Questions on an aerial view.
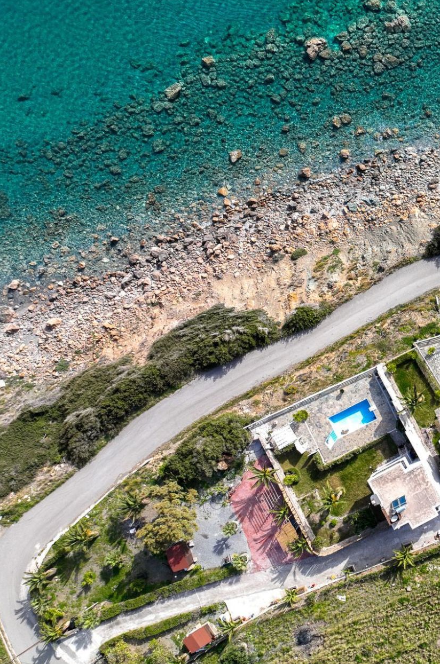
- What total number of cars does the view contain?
zero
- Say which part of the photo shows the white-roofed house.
bottom right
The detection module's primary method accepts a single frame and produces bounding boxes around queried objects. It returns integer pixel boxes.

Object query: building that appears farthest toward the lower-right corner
[368,455,440,531]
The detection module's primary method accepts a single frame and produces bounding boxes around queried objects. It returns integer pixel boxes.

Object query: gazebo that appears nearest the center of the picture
[270,422,301,449]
